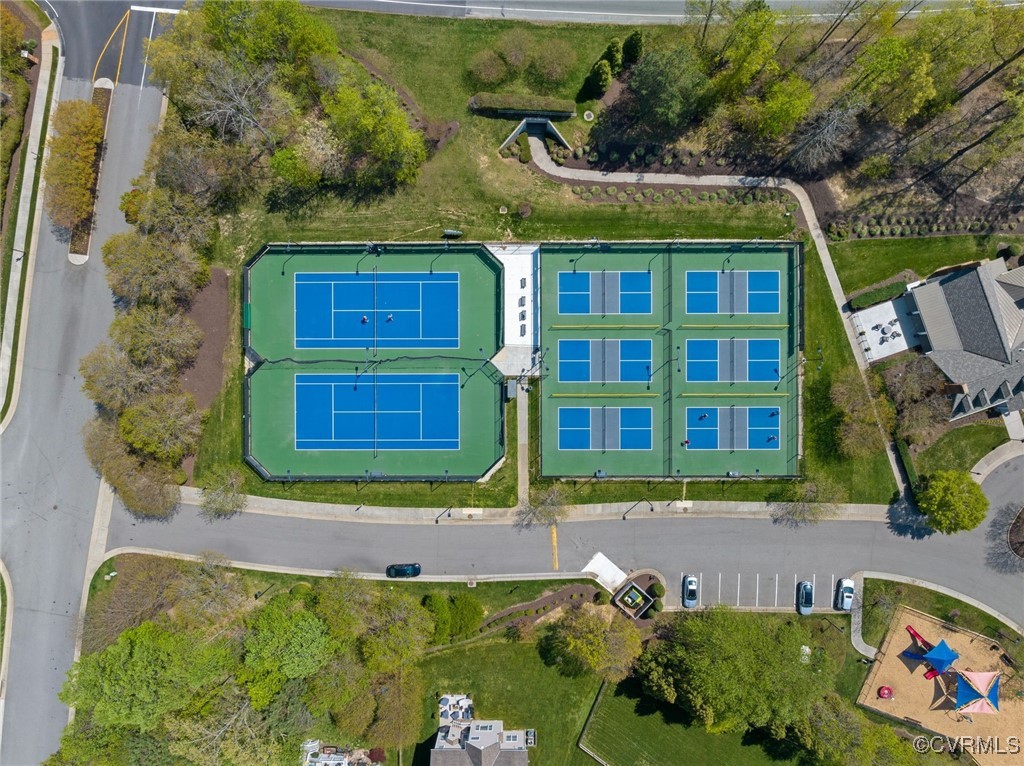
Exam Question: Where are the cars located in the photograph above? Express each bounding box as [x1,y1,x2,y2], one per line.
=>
[838,579,857,613]
[386,563,420,580]
[799,581,817,616]
[685,576,700,609]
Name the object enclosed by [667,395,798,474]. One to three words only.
sports court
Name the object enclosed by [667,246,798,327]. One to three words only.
sports court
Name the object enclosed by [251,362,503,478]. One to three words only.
tennis court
